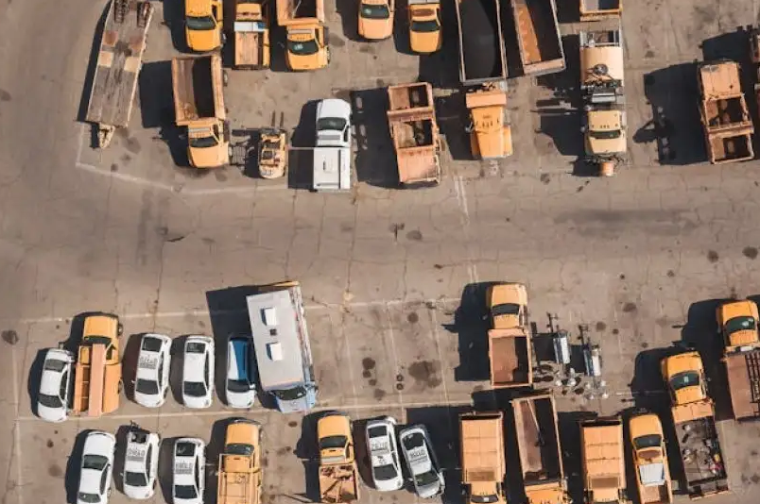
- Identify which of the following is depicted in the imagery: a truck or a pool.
truck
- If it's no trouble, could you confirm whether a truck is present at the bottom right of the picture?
Yes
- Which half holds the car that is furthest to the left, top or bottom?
bottom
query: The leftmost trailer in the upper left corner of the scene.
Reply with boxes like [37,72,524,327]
[88,0,155,150]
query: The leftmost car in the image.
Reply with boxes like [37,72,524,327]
[33,347,80,422]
